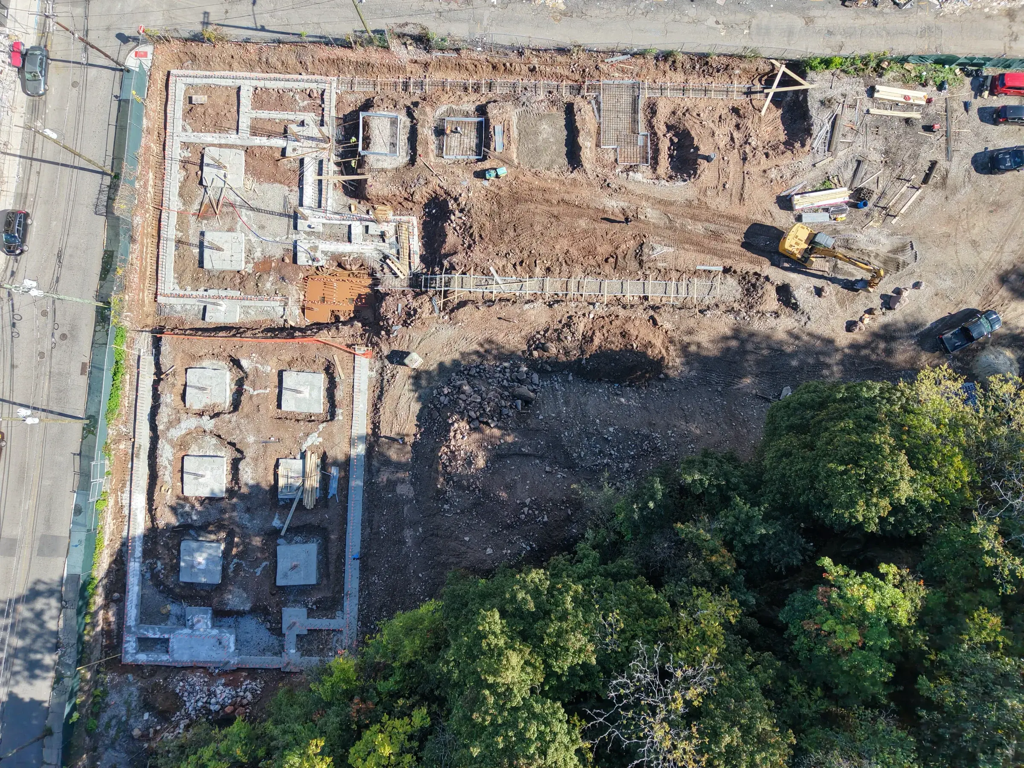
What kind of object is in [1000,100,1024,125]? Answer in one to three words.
car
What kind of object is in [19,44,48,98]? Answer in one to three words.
car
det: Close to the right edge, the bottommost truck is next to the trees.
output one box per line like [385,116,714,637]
[934,309,1002,355]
